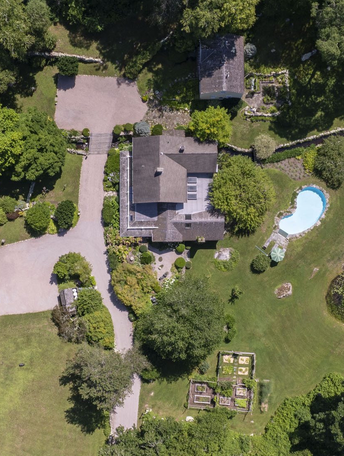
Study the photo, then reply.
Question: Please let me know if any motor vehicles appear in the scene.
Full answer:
No, I can't see a single motor vehicle in this photo.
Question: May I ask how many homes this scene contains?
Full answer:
The number of homes here is 2.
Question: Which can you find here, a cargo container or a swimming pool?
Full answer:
It is a swimming pool that can be seen here.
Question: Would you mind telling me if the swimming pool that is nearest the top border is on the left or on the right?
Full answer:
It is on the right.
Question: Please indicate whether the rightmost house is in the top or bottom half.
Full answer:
The rightmost house is in the top half of the image.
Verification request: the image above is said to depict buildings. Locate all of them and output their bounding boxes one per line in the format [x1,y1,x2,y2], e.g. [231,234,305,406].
[119,131,225,241]
[58,290,77,314]
[195,29,244,98]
